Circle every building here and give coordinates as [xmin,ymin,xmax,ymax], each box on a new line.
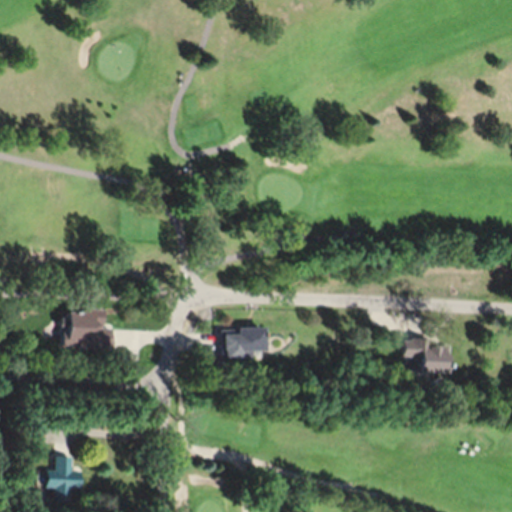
[64,309,115,348]
[403,337,455,374]
[38,454,85,497]
[219,326,268,358]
